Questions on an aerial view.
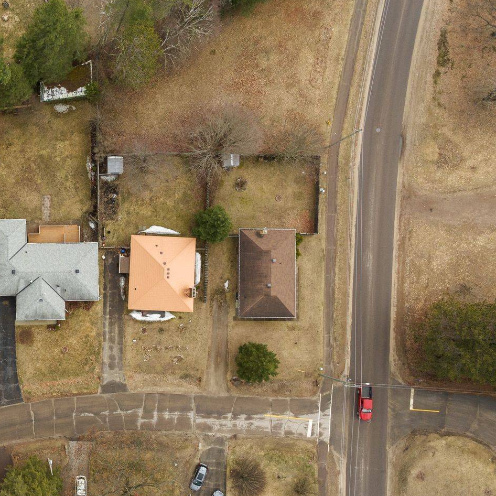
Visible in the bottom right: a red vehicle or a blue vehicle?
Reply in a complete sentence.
There is a red vehicle in the bottom right.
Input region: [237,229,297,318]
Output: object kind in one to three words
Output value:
house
